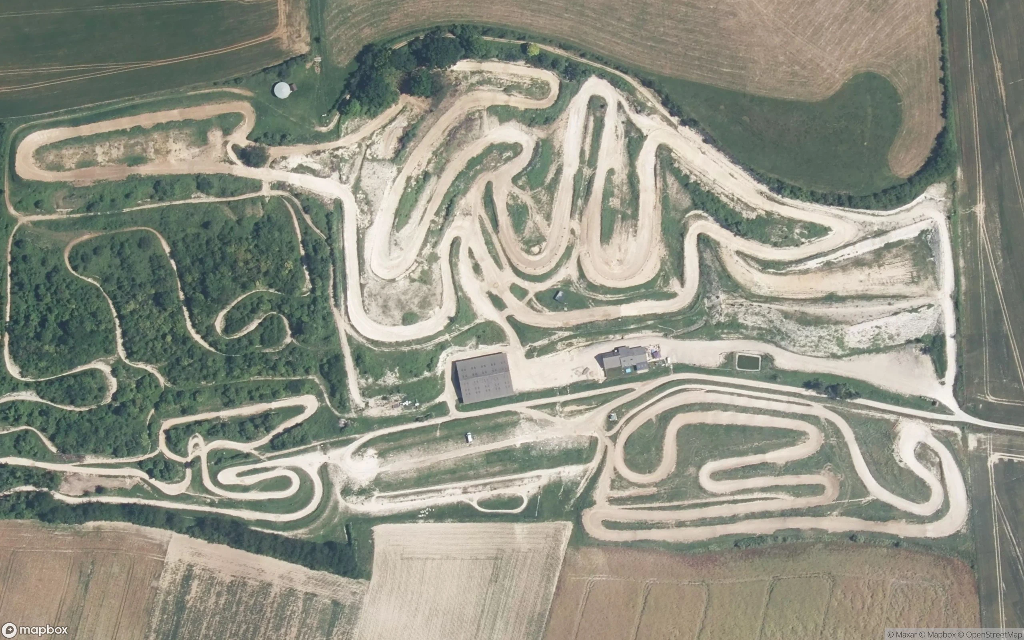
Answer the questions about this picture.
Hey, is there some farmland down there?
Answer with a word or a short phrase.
Yes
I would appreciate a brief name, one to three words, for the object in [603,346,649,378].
house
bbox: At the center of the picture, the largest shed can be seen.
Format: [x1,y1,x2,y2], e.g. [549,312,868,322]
[456,353,513,404]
